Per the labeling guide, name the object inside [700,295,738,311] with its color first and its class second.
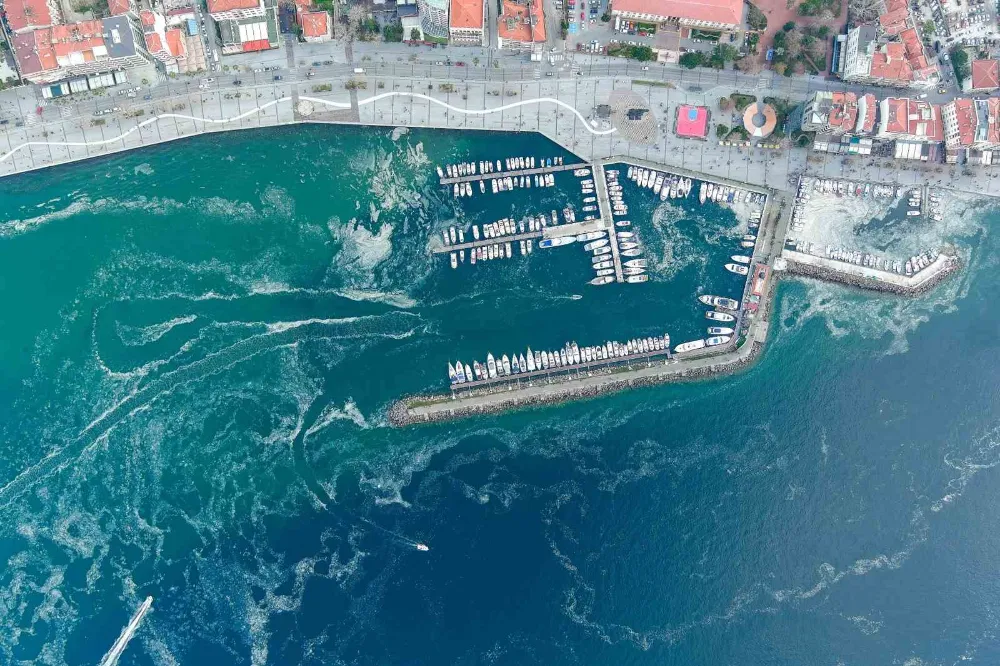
white boat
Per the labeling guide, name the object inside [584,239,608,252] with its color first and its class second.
white boat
